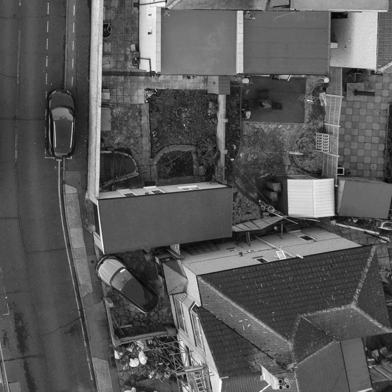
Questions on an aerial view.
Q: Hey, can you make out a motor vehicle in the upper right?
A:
No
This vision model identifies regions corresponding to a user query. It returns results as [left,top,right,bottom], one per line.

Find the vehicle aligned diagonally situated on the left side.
[97,252,159,319]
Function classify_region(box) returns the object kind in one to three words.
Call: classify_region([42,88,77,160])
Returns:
car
